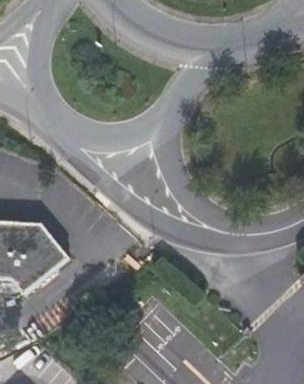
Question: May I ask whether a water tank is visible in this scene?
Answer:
No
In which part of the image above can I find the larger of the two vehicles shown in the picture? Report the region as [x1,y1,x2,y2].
[12,344,40,369]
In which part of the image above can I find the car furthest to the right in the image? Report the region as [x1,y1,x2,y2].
[33,351,51,370]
